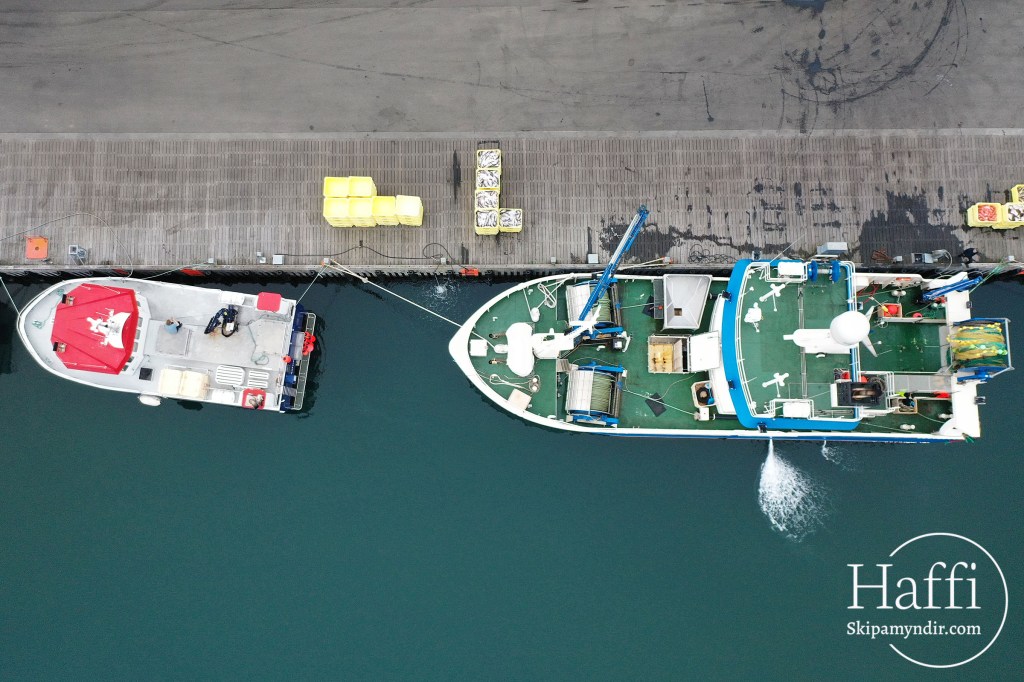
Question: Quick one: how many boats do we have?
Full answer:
My tally gives 2 boats in this view.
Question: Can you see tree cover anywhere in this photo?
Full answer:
No, tree cover can't be seen anywhere here.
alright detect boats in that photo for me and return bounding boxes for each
[448,199,1015,441]
[16,275,317,413]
